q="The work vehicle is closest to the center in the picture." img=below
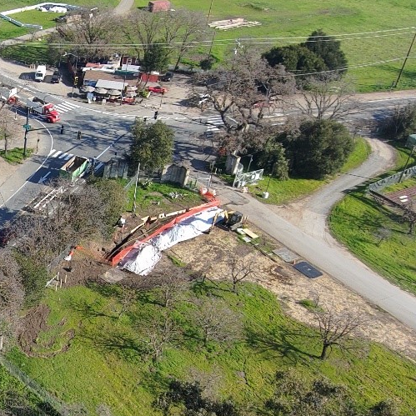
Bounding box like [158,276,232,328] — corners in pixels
[216,206,254,230]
